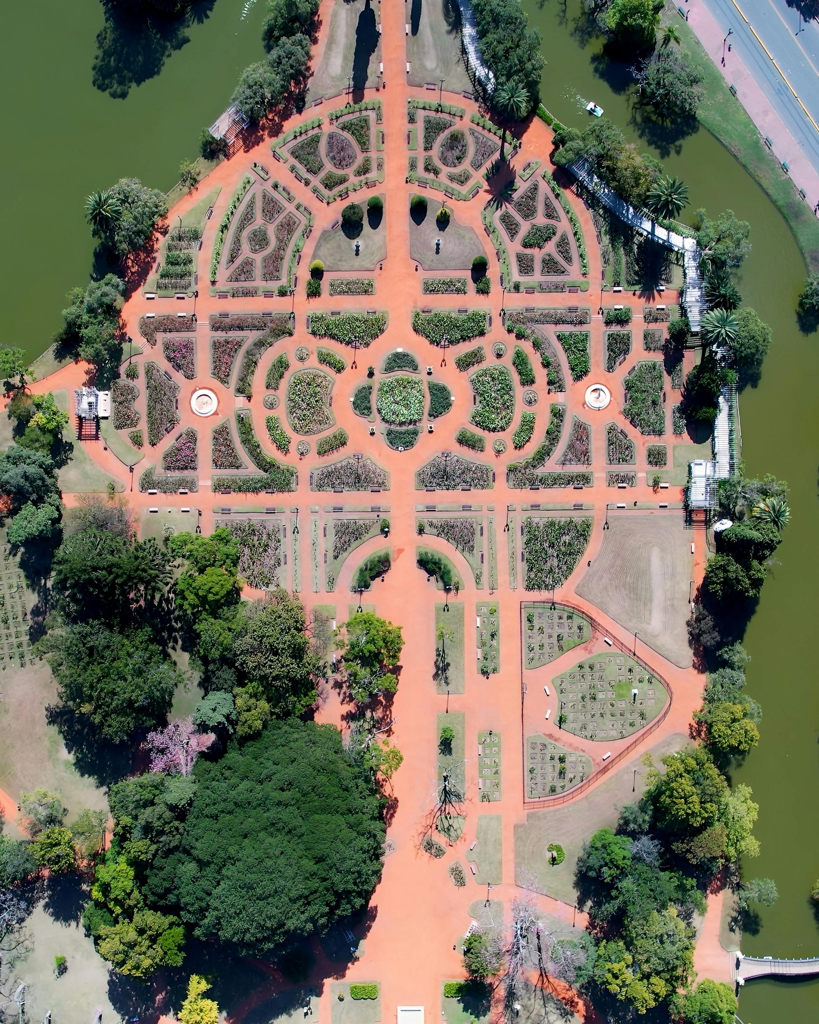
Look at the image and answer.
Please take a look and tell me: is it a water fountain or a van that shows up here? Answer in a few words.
water fountain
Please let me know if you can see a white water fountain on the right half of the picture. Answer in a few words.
Yes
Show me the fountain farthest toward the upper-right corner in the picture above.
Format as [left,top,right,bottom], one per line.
[584,383,612,410]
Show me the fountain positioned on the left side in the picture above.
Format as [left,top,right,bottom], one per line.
[190,389,218,416]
